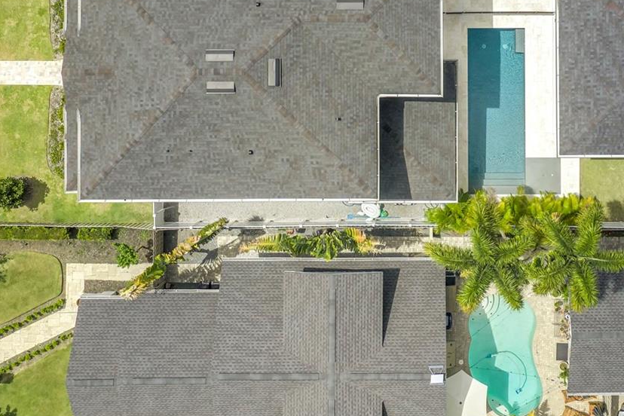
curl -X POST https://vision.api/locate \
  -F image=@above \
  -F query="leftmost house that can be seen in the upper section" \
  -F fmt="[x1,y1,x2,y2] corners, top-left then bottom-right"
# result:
[62,0,459,204]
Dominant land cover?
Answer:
buildings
